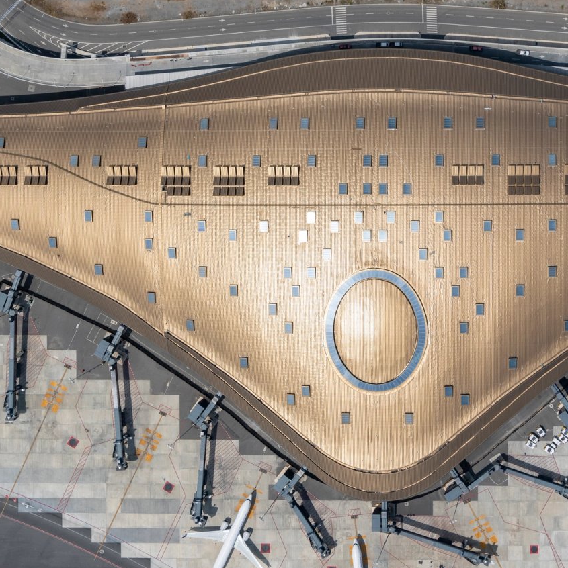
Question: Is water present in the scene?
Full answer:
No, no water is visible.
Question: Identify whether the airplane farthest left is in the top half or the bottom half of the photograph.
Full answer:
The airplane farthest left is in the bottom half of the image.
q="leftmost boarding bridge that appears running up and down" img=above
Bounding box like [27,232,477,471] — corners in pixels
[0,270,28,425]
